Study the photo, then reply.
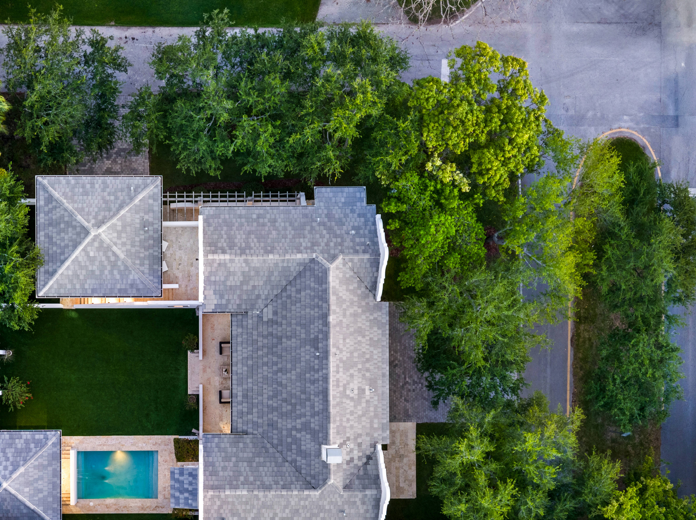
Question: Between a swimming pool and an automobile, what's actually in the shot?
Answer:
swimming pool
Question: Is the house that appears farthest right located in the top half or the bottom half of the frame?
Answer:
bottom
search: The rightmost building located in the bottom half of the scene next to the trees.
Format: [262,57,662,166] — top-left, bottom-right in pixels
[198,185,391,520]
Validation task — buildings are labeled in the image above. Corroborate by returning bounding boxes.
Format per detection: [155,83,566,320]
[0,430,61,520]
[198,185,391,520]
[36,175,161,296]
